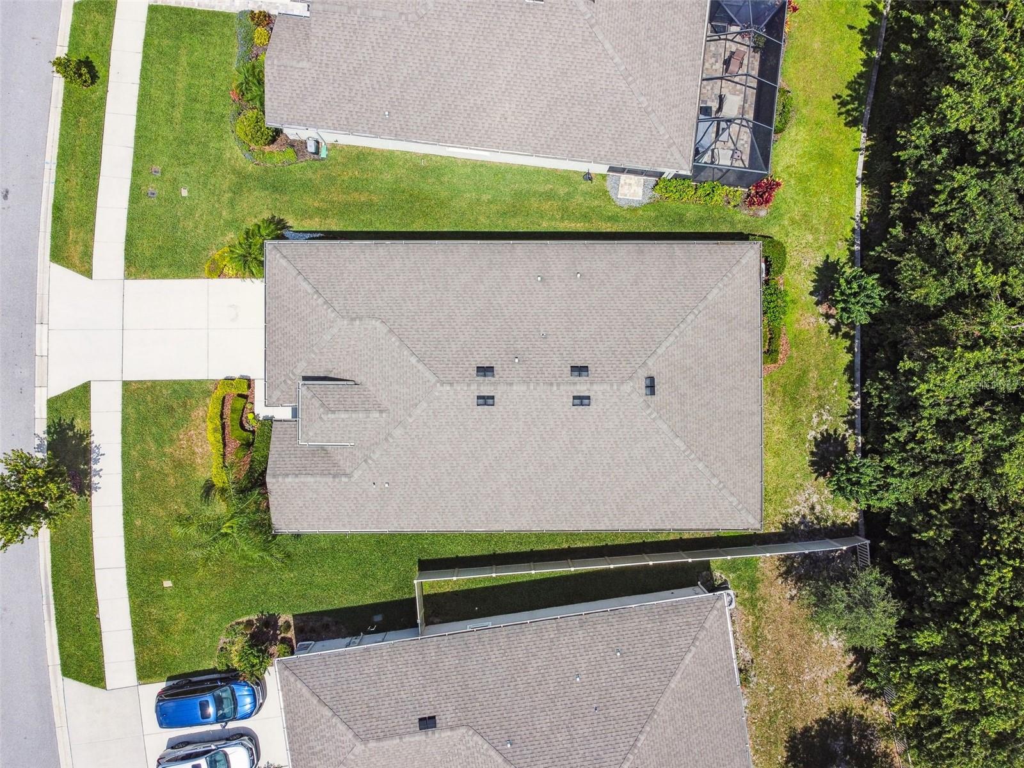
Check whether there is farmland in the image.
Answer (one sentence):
No, farmland can't be seen anywhere here.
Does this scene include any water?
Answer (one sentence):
No, the scene doesn't show any water.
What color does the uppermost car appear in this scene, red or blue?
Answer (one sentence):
From above, the uppermost car appears blue.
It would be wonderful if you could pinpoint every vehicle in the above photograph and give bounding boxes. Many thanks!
[159,672,261,730]
[155,737,257,768]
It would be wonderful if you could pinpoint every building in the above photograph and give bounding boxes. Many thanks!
[262,238,764,534]
[263,0,715,181]
[272,578,755,768]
